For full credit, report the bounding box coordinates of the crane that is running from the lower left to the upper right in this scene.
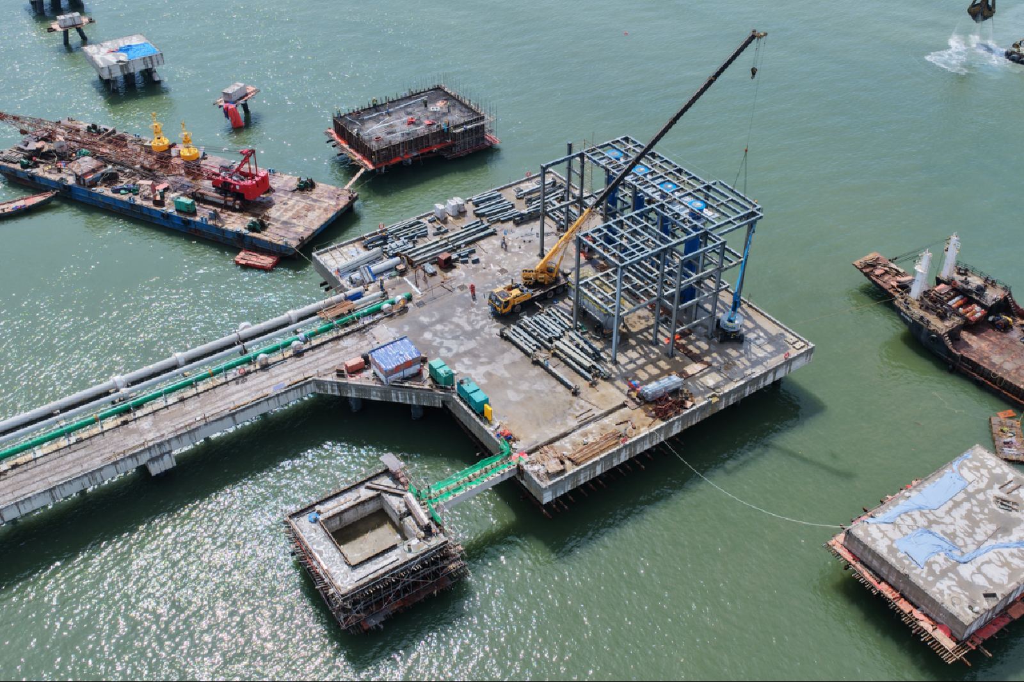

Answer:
[482,34,769,316]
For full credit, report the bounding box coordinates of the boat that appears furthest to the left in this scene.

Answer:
[0,185,59,220]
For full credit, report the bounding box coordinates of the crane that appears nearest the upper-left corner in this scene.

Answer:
[0,109,274,210]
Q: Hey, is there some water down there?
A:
Yes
